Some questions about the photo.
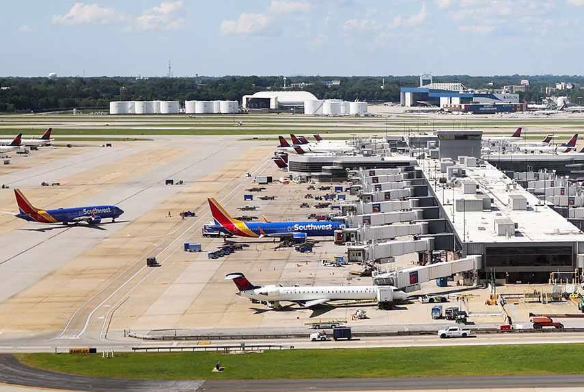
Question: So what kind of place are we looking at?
airport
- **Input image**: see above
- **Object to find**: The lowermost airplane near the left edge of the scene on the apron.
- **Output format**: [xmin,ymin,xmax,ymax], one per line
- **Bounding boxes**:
[14,186,123,225]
